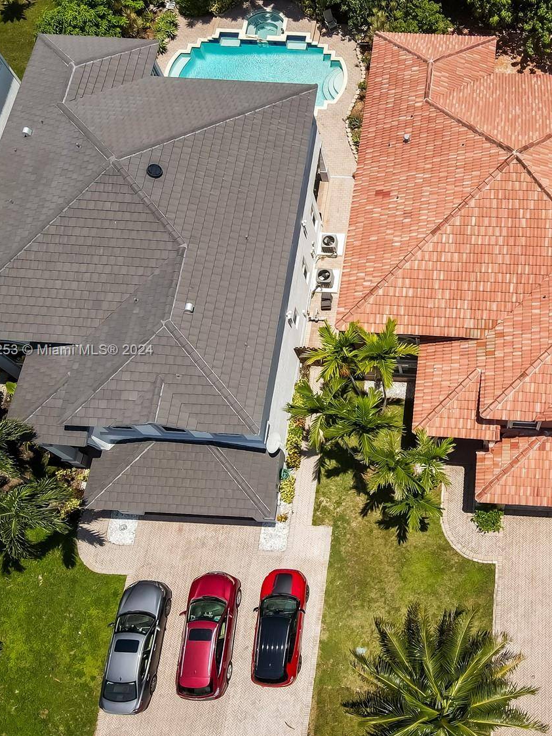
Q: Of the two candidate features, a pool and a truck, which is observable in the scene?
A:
pool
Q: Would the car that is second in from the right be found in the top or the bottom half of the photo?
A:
bottom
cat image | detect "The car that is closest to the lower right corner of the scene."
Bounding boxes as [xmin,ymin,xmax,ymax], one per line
[250,569,309,686]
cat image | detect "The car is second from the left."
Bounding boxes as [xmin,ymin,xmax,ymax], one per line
[176,571,241,700]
